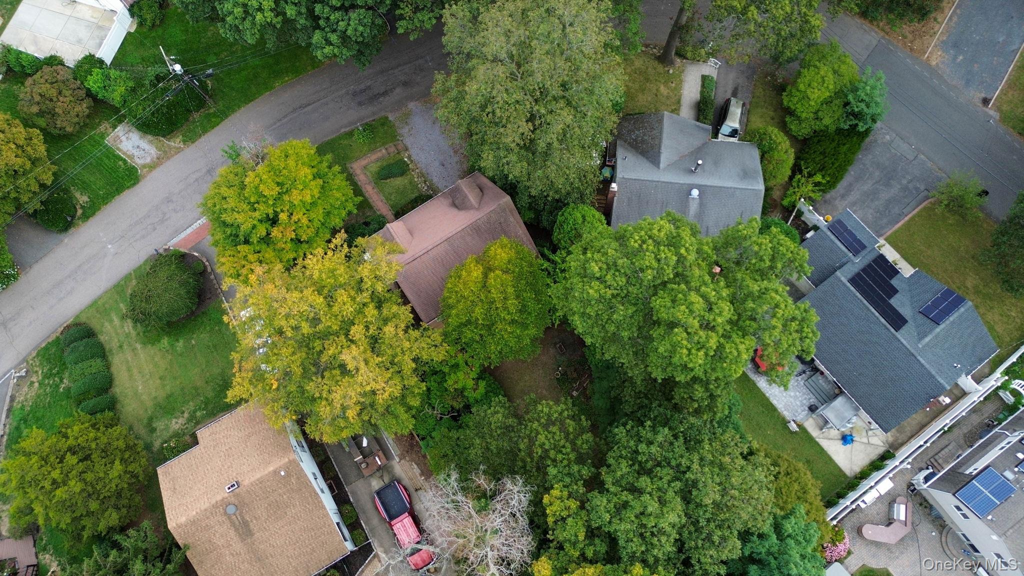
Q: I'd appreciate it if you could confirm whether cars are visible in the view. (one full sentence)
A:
Yes, this view includes a car.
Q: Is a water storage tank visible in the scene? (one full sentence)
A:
No, I can see no water storage tank in this picture.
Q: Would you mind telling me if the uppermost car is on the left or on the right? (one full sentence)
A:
It is on the right.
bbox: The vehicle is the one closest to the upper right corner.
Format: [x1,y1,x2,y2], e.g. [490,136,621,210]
[715,91,754,142]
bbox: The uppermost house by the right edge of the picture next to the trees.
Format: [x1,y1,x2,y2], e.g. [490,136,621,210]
[779,208,1001,434]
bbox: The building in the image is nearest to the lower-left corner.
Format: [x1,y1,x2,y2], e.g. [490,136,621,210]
[153,394,353,576]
